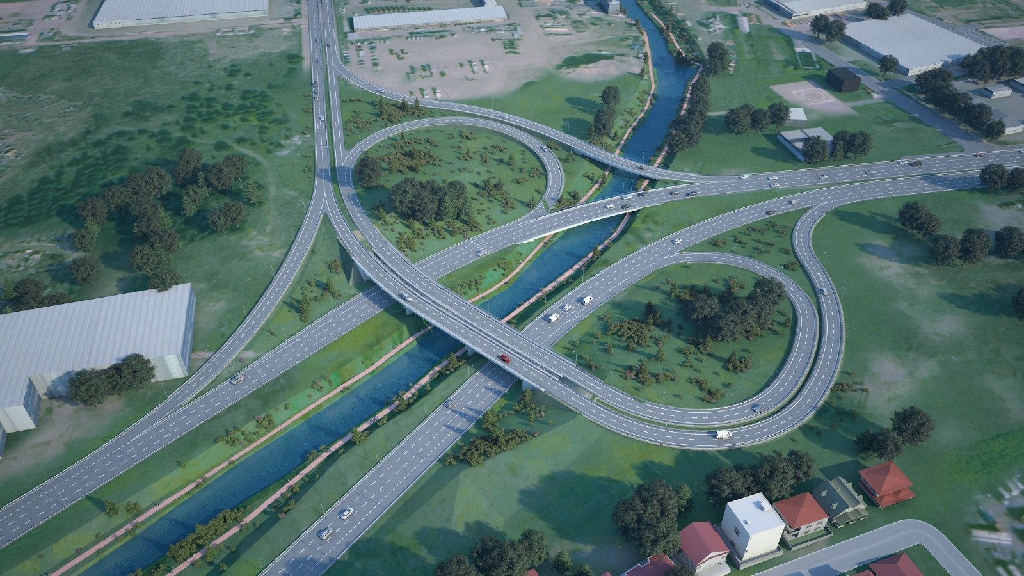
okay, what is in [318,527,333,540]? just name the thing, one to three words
vehicle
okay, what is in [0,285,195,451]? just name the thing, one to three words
warehouse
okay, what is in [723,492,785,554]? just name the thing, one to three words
building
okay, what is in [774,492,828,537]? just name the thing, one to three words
house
